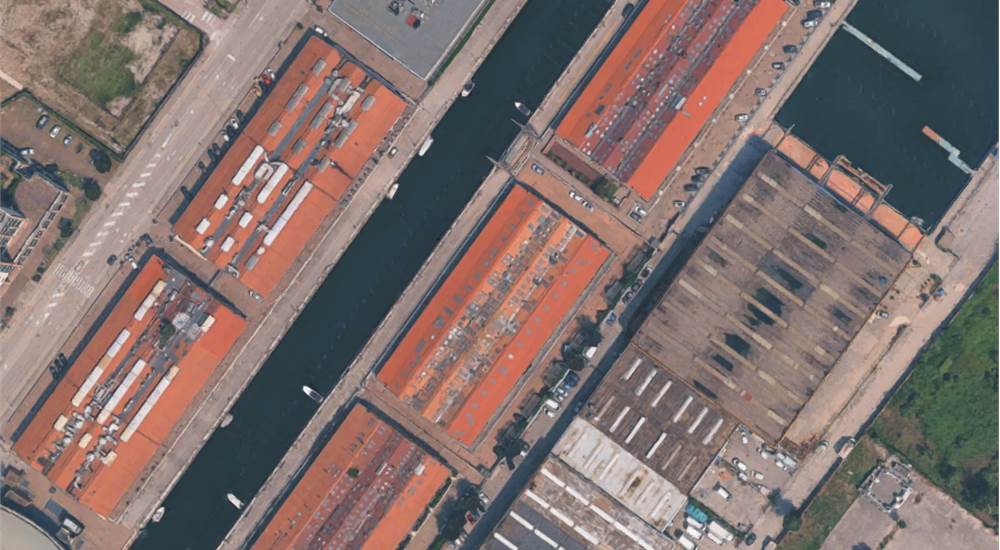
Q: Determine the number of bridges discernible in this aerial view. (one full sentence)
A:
Only 1 bridge is visible.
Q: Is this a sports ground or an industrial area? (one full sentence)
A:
The area seen from above is an industrial area.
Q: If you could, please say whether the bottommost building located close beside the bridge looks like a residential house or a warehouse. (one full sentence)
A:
From above, the bottommost building located close beside the bridge can be identified as a warehouse.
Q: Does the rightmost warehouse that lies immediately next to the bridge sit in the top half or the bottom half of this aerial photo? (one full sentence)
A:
It is in the top half that the rightmost warehouse that lies immediately next to the bridge appears.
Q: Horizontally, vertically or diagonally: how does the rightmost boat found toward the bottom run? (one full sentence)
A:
Seen from above, the rightmost boat found toward the bottom lies diagonally.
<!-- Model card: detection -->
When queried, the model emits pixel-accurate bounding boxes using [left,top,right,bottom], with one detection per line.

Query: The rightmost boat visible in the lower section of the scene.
[303,386,323,405]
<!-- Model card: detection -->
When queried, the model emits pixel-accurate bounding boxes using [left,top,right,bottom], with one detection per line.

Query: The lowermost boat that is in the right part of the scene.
[909,214,924,227]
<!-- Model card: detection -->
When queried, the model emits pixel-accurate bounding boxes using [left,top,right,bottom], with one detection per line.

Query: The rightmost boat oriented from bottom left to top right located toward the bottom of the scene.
[221,415,234,429]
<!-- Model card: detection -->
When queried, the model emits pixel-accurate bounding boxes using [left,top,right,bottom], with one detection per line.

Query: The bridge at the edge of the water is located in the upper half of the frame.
[485,118,547,179]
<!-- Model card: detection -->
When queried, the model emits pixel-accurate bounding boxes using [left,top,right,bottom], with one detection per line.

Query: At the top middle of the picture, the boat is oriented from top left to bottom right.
[516,101,531,116]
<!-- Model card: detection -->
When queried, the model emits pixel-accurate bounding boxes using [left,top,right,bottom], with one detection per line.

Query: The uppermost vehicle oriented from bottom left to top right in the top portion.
[619,4,635,19]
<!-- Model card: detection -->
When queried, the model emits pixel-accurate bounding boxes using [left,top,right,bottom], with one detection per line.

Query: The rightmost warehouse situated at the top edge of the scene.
[542,0,799,213]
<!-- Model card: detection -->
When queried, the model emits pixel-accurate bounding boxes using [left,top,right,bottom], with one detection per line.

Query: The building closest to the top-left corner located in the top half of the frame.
[0,138,35,190]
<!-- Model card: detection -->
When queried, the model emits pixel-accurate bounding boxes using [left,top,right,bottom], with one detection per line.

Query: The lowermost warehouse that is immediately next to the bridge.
[374,182,619,450]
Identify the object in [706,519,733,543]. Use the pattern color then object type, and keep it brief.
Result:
white truck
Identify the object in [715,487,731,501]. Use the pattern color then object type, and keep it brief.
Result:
white vehicle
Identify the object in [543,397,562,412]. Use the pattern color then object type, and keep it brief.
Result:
white vehicle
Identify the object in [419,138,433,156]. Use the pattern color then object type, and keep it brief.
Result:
white boat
